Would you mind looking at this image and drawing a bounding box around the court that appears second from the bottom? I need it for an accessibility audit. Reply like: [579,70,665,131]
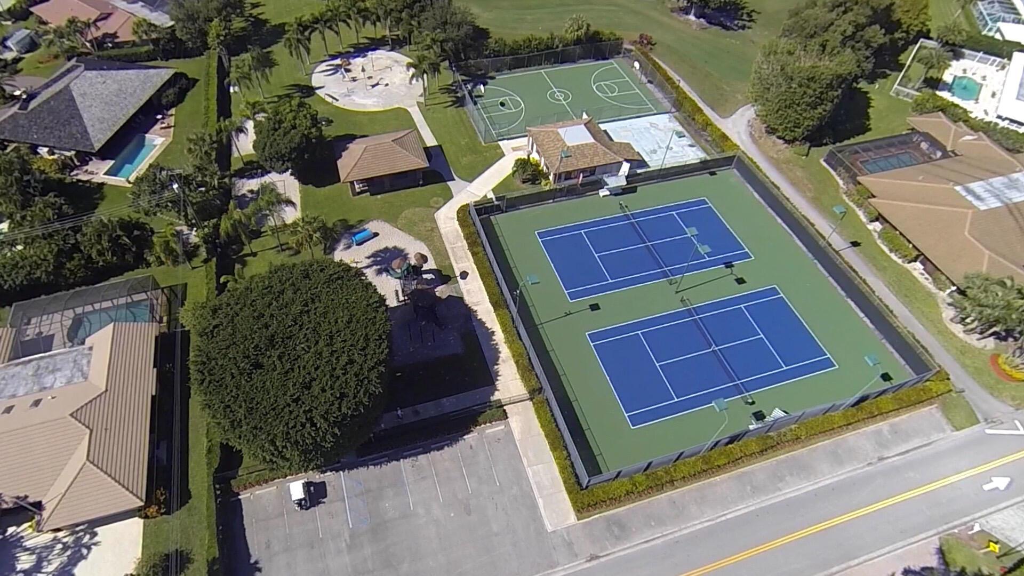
[480,171,811,329]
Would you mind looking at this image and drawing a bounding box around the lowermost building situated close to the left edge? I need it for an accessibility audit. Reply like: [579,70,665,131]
[0,322,161,532]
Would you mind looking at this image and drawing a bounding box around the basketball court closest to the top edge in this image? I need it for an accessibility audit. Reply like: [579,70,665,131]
[464,57,675,143]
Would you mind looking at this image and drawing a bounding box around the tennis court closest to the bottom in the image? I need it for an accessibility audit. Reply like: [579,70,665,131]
[526,261,909,478]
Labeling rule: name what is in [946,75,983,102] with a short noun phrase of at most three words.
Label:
swimming pool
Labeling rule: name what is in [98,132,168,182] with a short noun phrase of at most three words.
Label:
swimming pool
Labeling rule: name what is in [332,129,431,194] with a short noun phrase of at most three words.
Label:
building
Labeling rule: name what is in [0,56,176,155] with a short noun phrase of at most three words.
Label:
house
